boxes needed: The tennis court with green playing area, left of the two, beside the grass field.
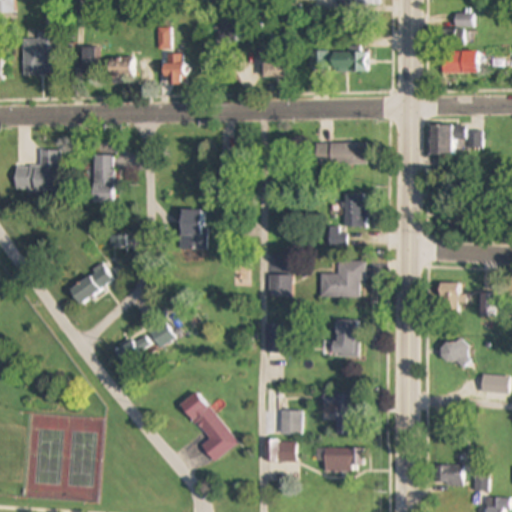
[26,414,68,499]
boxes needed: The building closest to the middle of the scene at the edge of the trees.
[268,274,295,297]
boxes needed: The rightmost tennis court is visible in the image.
[63,416,104,502]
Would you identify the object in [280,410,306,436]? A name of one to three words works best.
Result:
building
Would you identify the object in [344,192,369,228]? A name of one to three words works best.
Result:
house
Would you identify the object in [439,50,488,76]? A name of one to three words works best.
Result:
house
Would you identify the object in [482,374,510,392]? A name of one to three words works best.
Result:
building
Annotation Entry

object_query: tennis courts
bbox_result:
[63,416,104,502]
[26,414,68,499]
